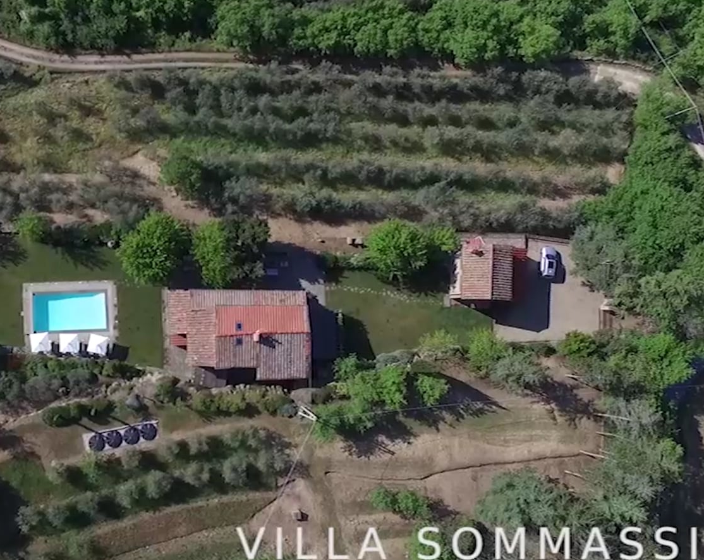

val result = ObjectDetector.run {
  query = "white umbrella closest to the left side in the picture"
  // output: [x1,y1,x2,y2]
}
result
[31,332,51,354]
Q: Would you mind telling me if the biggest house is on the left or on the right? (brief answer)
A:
left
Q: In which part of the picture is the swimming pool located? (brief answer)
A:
left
